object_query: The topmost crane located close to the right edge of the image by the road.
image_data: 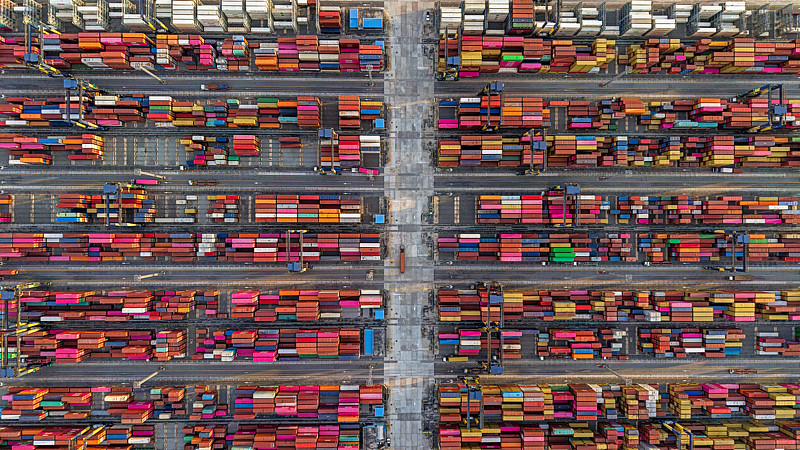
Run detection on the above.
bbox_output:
[741,84,784,134]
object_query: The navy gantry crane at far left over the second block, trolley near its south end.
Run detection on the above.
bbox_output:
[23,20,66,76]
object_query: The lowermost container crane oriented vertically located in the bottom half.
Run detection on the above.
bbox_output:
[459,375,484,429]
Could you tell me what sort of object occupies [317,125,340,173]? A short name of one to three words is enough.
container crane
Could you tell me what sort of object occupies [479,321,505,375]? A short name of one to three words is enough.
container crane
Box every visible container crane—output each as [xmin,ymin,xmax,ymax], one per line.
[138,0,173,34]
[2,281,47,330]
[63,79,104,130]
[287,227,311,271]
[550,184,580,227]
[532,0,562,39]
[23,20,66,76]
[459,375,484,429]
[438,24,462,79]
[741,84,784,134]
[478,82,504,133]
[103,182,141,227]
[317,125,340,173]
[479,321,505,375]
[708,227,749,270]
[479,280,504,328]
[1,324,46,376]
[659,414,695,450]
[519,127,548,174]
